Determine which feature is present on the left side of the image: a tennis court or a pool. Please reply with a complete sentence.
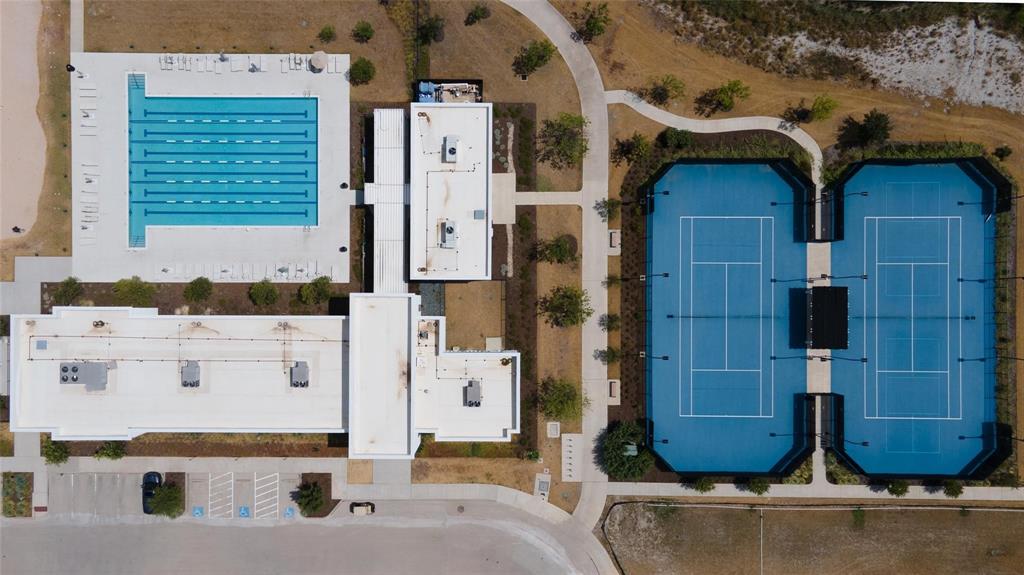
The one visible on the left side of the image is a pool.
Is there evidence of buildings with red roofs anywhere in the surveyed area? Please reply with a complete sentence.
No, there's no building with a red roof here.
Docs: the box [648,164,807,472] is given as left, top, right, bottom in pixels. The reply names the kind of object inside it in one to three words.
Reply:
tennis court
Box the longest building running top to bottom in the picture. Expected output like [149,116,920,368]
[410,103,495,281]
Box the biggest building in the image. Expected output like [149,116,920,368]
[10,292,520,459]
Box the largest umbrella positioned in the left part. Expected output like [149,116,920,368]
[309,53,326,70]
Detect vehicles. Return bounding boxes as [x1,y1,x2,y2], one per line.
[141,471,163,514]
[350,500,375,515]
